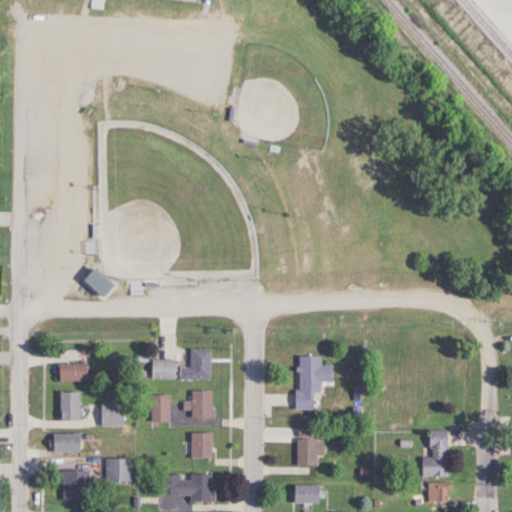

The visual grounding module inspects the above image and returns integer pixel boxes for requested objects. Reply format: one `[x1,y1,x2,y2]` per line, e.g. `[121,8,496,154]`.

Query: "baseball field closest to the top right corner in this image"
[230,44,330,152]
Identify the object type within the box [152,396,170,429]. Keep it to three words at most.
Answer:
building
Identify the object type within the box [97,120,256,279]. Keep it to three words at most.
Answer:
baseball field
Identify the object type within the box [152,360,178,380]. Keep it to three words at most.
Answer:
building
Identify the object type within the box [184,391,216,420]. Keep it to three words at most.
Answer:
house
